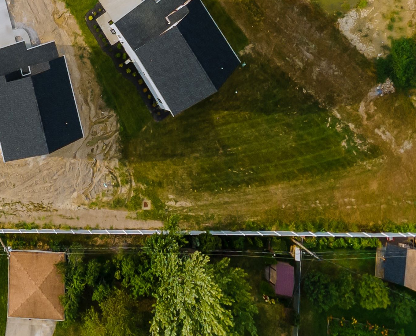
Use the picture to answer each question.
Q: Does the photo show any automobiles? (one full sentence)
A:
No, there appears to be no automobile in this shot.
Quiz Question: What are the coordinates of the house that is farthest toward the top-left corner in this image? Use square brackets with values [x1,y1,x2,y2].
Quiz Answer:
[0,41,84,162]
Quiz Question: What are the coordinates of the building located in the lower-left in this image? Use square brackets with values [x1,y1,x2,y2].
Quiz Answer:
[7,246,66,321]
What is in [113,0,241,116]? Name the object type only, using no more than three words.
house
